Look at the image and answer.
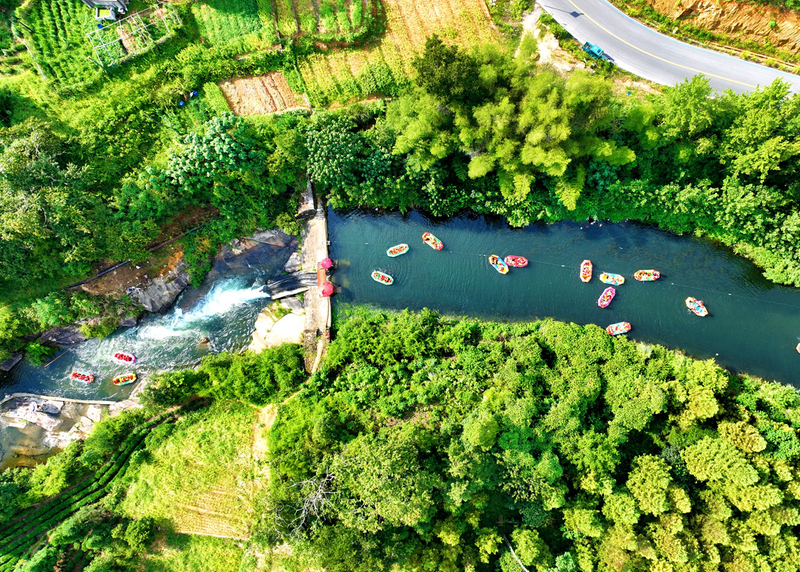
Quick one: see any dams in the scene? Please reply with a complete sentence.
Yes, the image includes a dam.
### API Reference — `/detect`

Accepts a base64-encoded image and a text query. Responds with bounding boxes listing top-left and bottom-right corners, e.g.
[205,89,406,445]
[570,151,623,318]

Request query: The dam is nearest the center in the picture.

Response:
[272,178,331,375]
